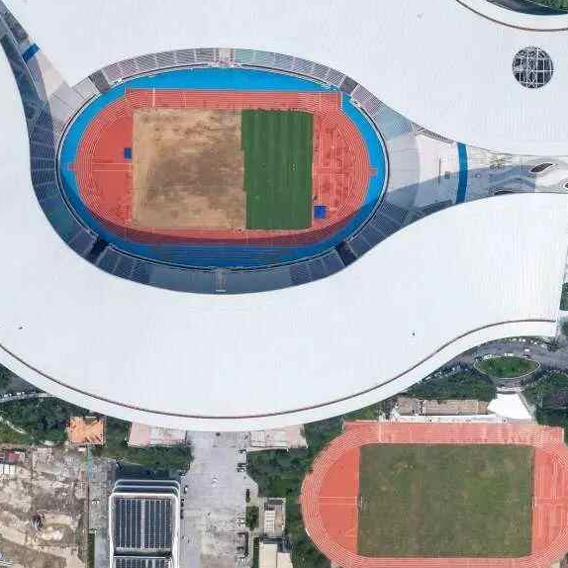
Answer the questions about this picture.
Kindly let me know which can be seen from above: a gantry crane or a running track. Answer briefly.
running track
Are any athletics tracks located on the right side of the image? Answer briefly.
Yes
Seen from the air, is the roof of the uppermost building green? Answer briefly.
No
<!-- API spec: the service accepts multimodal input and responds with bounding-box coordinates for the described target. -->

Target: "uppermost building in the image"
[487,388,532,419]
